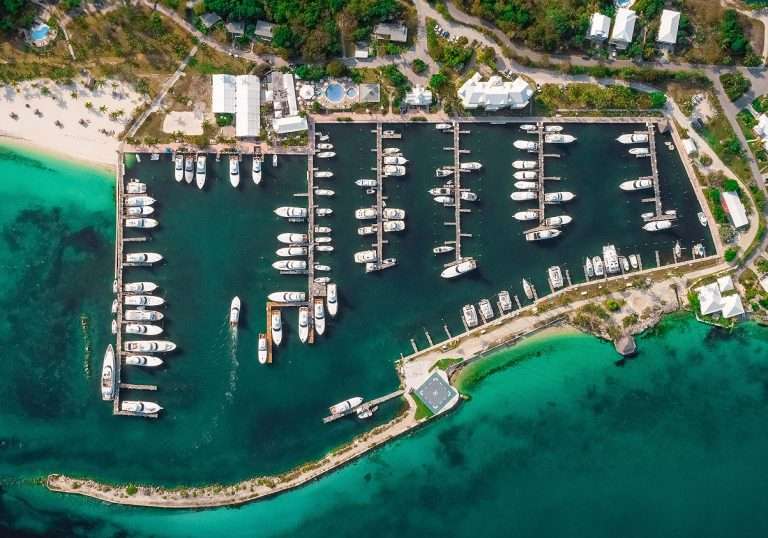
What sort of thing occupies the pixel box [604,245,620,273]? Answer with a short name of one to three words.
ship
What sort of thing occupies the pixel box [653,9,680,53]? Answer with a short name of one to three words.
house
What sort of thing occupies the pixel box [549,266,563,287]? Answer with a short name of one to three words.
boat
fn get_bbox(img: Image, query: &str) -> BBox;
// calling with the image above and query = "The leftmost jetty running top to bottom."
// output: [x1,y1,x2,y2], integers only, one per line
[113,152,158,418]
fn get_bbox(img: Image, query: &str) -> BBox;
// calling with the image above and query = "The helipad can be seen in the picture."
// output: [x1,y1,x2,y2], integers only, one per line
[416,372,456,413]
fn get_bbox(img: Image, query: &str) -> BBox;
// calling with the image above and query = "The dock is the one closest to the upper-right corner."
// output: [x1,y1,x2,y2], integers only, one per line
[634,122,676,222]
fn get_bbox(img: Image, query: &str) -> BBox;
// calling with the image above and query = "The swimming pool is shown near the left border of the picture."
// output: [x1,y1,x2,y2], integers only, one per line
[30,26,50,41]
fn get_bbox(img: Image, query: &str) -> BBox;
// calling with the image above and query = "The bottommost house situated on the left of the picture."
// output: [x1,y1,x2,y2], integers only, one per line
[273,116,308,134]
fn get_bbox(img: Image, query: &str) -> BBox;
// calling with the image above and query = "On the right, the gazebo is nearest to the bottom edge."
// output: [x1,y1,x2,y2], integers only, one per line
[613,335,636,356]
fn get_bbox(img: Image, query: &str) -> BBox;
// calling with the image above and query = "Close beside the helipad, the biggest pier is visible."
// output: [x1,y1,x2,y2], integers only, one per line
[323,389,406,422]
